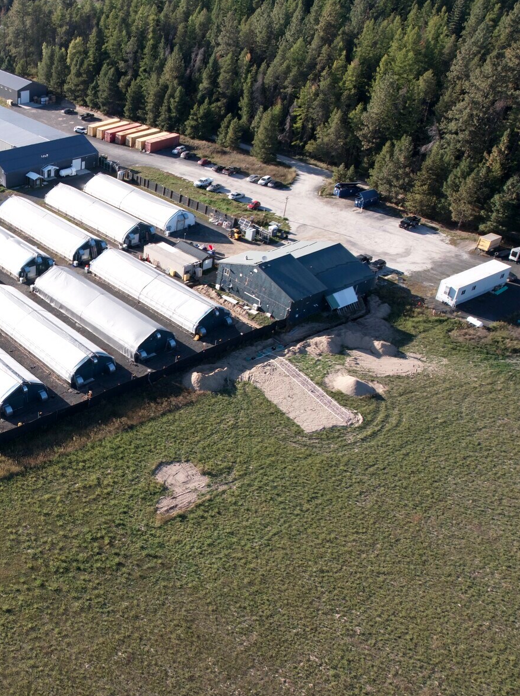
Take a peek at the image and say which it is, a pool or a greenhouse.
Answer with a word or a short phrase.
greenhouse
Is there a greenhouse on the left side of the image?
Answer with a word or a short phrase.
Yes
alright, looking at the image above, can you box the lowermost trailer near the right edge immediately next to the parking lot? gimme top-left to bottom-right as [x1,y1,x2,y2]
[437,257,518,306]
